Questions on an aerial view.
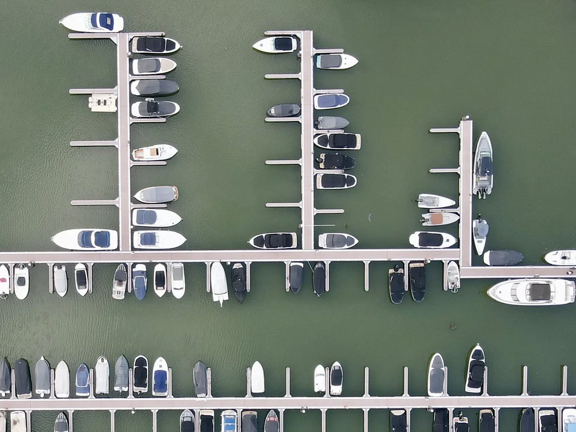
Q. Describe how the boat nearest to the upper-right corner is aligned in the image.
vertically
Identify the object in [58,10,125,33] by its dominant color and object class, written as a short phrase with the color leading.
white boat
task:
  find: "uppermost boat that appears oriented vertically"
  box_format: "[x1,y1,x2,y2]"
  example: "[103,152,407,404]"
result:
[474,132,493,204]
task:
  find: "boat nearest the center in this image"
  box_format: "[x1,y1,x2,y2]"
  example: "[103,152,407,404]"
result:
[247,233,298,249]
